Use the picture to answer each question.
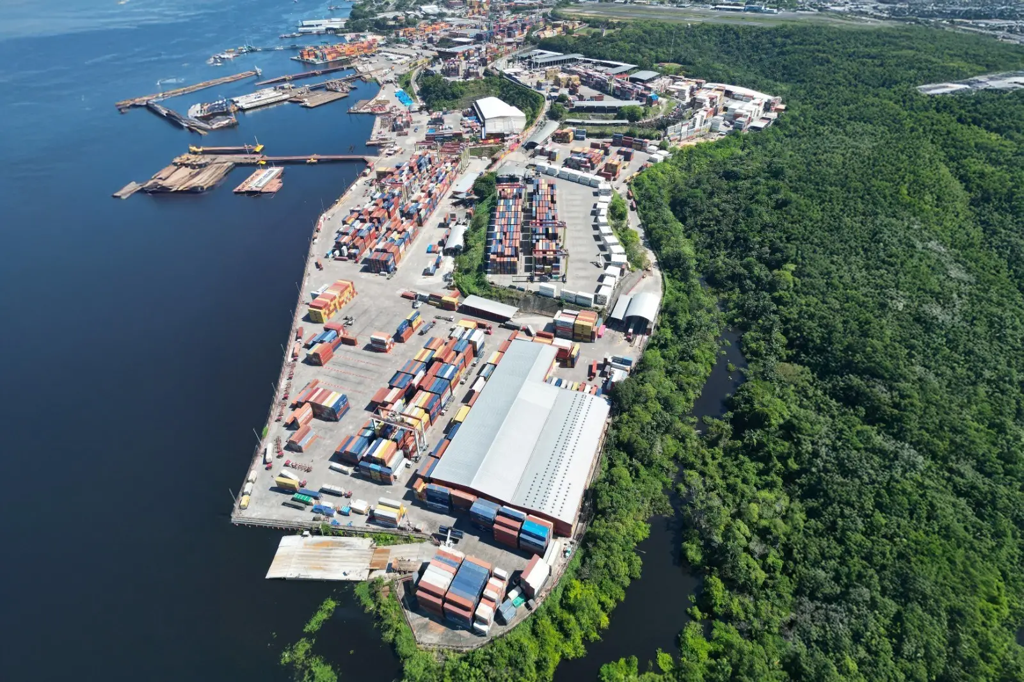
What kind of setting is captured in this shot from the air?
port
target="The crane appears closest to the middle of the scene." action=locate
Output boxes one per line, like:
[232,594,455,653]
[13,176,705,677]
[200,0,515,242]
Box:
[529,250,573,283]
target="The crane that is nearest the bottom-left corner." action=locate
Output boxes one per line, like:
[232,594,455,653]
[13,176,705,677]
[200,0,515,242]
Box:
[363,406,428,462]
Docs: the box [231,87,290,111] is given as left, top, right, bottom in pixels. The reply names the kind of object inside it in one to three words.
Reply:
ship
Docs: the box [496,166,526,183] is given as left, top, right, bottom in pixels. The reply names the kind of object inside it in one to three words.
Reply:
shed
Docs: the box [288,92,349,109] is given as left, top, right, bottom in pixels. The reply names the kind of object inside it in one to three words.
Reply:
ship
